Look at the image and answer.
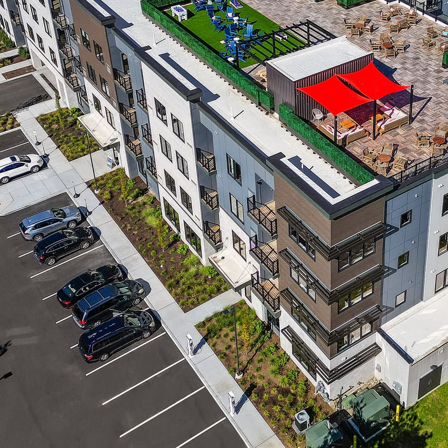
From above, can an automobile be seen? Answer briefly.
Yes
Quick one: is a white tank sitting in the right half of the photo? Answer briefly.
No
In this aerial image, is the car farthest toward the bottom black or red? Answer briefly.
black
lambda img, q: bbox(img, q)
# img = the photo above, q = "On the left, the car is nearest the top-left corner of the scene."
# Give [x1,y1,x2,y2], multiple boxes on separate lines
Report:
[0,152,45,184]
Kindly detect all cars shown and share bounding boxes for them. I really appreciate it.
[68,277,149,329]
[0,152,45,184]
[15,204,82,245]
[76,308,159,366]
[51,261,125,308]
[28,225,96,267]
